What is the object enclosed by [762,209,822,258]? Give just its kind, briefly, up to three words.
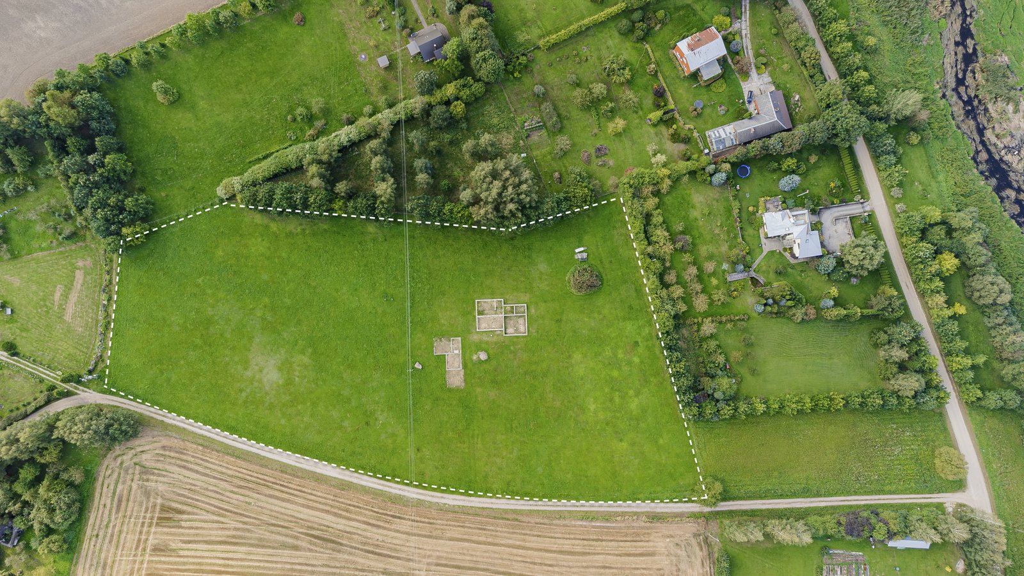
house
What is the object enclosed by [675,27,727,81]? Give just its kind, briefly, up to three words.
house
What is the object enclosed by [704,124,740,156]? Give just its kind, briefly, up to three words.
greenhouse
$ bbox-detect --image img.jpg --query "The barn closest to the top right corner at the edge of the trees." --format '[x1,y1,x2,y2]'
[732,91,792,144]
